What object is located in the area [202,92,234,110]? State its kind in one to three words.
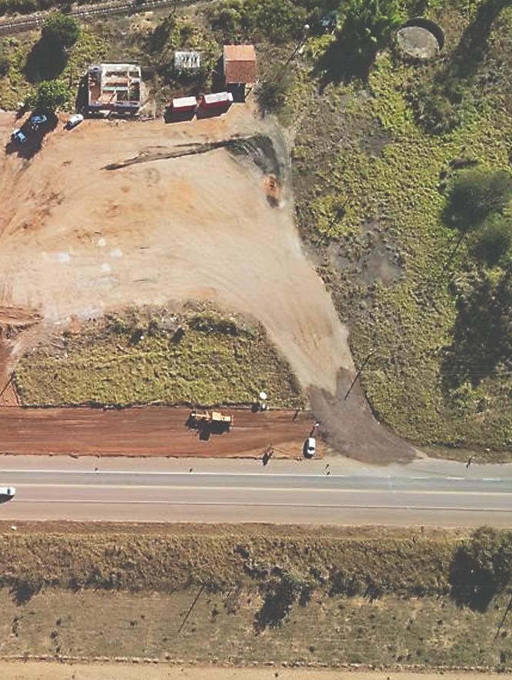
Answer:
vehicle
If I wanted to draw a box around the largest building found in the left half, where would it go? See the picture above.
[88,64,141,111]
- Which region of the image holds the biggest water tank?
top right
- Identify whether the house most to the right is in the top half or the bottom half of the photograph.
top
